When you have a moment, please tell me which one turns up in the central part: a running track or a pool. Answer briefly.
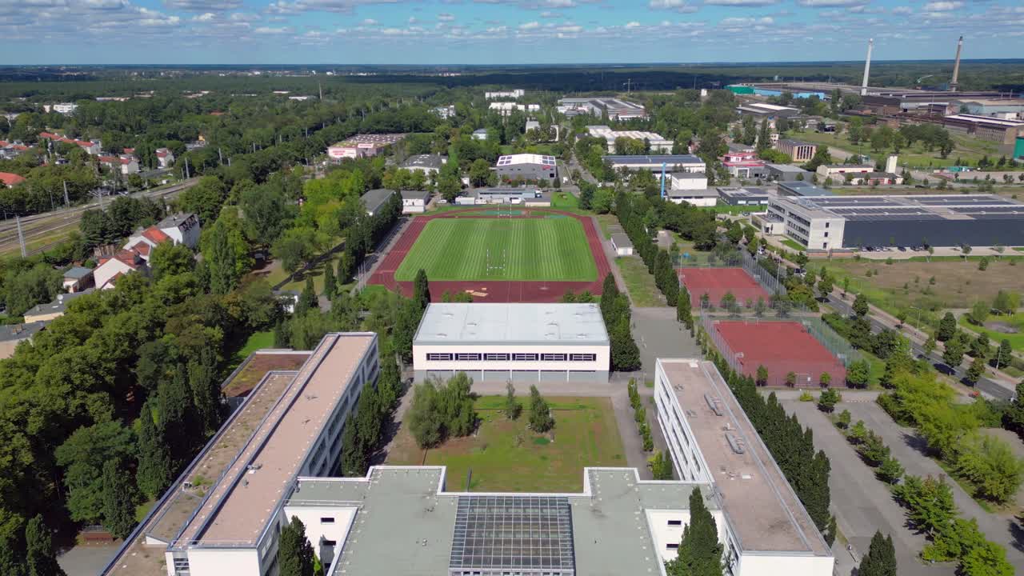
running track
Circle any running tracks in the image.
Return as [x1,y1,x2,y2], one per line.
[368,205,626,300]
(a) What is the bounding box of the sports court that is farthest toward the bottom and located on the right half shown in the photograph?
[717,321,861,386]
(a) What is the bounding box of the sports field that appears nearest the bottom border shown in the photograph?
[397,218,596,281]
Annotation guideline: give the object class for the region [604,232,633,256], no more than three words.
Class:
shed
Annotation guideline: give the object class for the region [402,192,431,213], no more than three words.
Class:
building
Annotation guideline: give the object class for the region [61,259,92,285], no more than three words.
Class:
house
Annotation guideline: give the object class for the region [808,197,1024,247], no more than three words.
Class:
building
